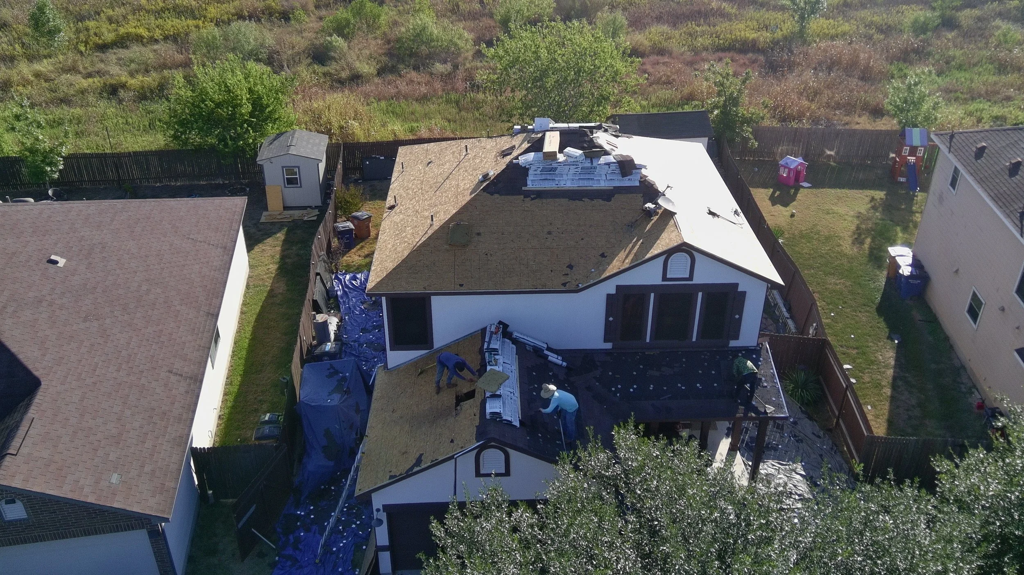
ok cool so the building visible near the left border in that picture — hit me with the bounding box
[0,196,250,575]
